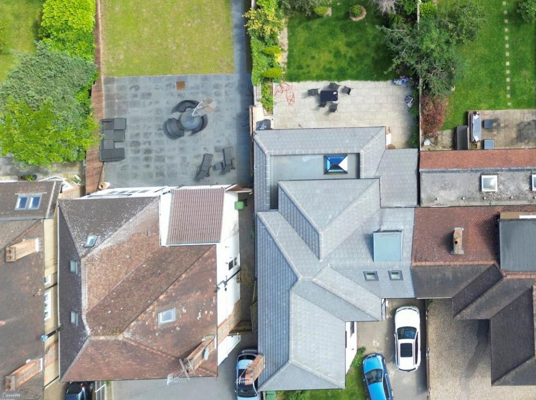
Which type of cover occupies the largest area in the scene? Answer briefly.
buildings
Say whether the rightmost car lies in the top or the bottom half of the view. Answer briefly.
bottom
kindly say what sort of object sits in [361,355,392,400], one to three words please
car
